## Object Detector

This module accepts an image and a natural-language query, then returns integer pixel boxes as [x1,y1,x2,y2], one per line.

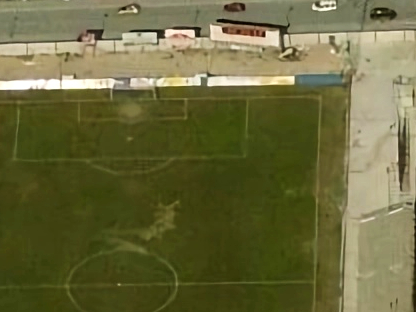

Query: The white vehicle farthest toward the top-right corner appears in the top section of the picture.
[311,0,337,12]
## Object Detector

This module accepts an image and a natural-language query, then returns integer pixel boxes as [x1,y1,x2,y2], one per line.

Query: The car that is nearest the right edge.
[370,7,396,19]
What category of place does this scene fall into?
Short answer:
sports ground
